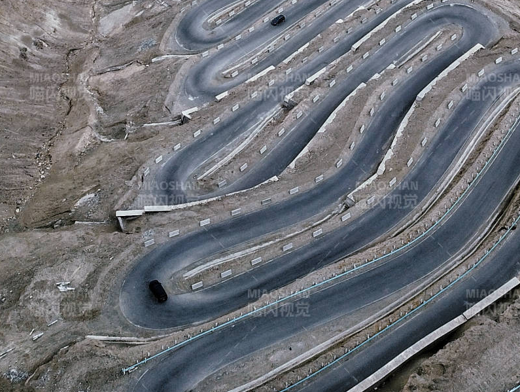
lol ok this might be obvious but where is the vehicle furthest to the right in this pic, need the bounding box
[270,14,286,27]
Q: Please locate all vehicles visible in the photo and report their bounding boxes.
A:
[270,14,286,27]
[150,277,166,304]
